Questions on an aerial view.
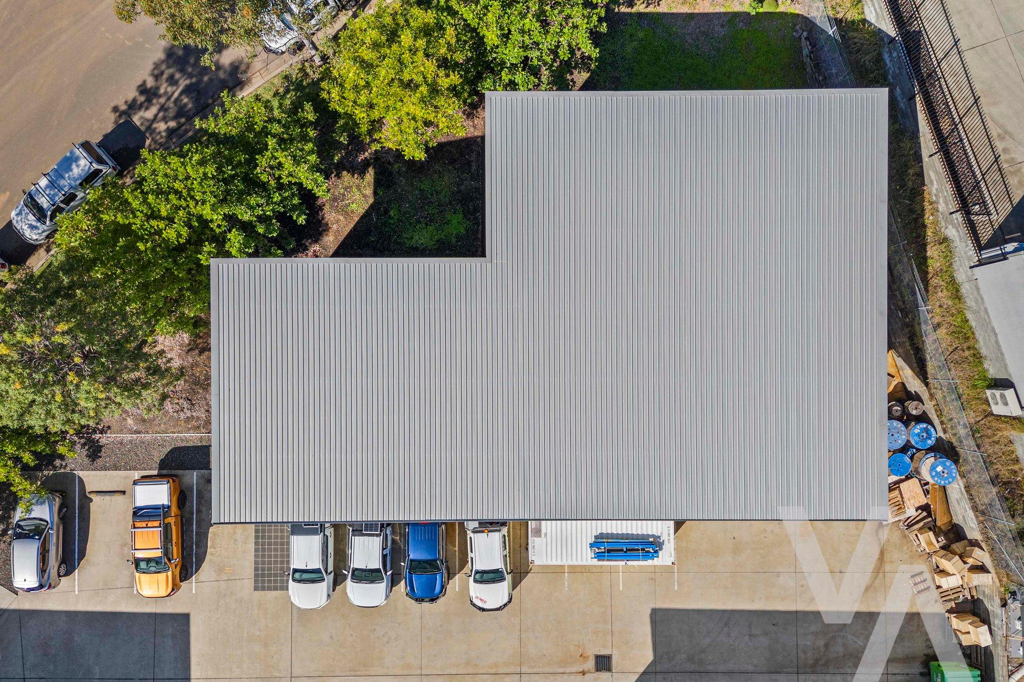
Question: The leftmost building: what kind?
warehouse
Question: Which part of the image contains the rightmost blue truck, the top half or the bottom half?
bottom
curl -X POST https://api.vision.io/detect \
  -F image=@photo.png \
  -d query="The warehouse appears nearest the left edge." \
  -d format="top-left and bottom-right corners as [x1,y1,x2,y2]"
[211,88,888,524]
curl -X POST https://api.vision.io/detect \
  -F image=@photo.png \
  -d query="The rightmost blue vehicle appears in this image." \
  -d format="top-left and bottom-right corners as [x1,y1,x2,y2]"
[400,522,451,609]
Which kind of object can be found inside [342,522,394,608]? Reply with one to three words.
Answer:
truck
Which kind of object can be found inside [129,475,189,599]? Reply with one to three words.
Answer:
truck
